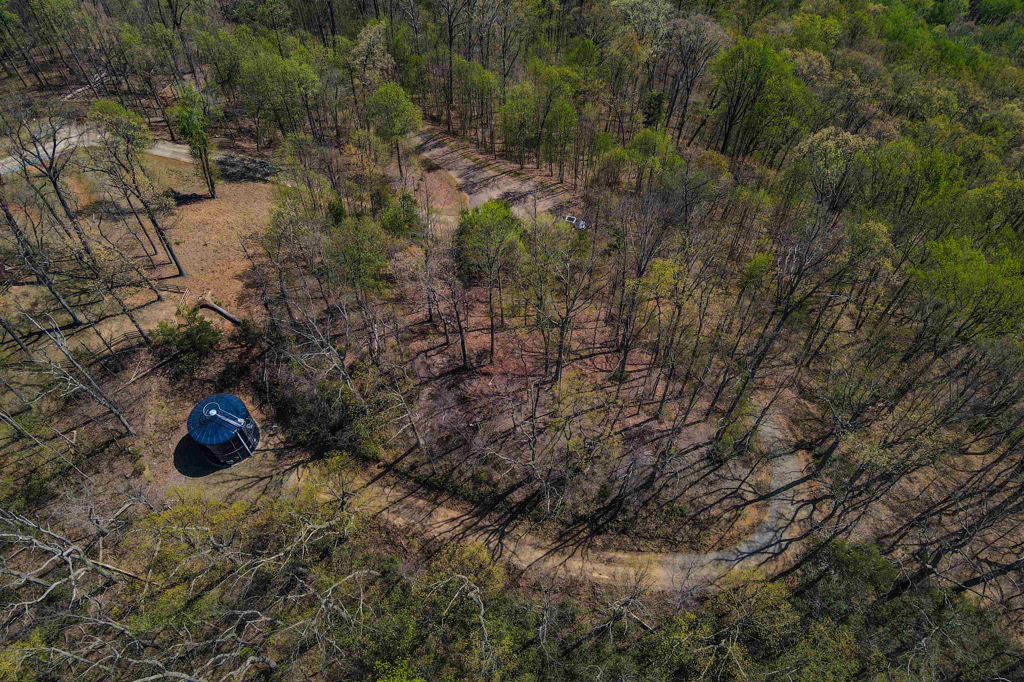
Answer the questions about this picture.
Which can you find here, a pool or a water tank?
water tank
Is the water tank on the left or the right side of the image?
left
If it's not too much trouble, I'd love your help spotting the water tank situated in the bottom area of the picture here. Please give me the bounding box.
[186,393,261,467]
